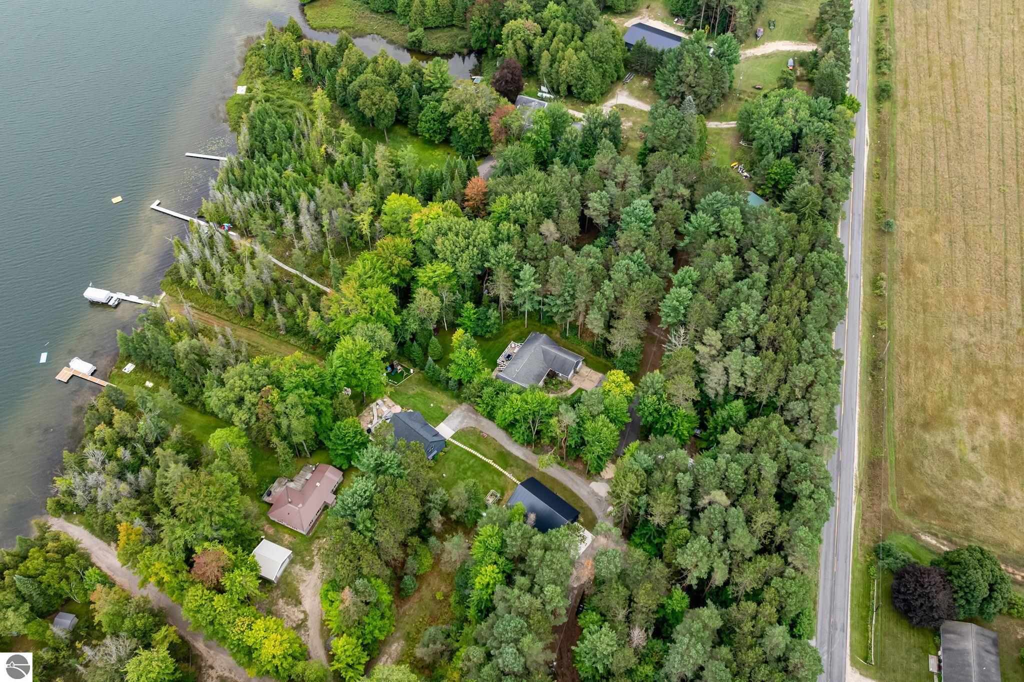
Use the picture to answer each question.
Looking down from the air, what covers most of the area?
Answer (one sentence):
What you mostly see from above here is trees.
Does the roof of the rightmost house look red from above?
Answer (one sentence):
No, the roof of the rightmost house is actually gray.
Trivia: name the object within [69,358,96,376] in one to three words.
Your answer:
boat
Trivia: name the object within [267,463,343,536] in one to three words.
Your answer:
house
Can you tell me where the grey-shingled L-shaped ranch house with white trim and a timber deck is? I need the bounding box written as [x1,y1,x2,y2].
[498,331,583,387]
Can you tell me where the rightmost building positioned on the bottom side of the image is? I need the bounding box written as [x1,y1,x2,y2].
[937,625,1002,682]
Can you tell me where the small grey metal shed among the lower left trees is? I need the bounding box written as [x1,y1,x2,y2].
[52,611,79,633]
